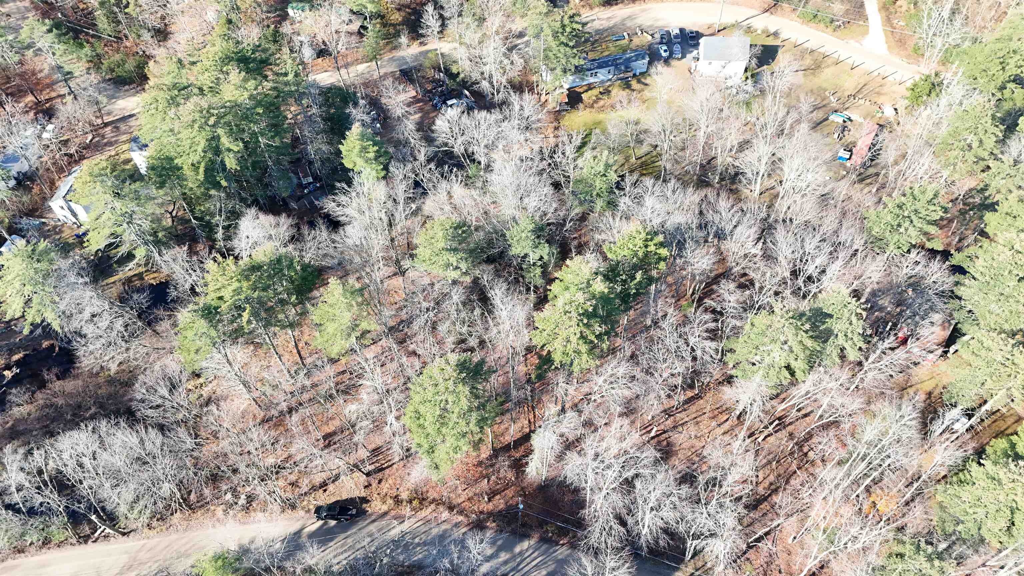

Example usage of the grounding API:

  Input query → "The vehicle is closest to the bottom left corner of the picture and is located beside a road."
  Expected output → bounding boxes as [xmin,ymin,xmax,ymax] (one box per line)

[313,503,359,522]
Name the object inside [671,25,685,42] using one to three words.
vehicle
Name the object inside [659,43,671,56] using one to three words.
vehicle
